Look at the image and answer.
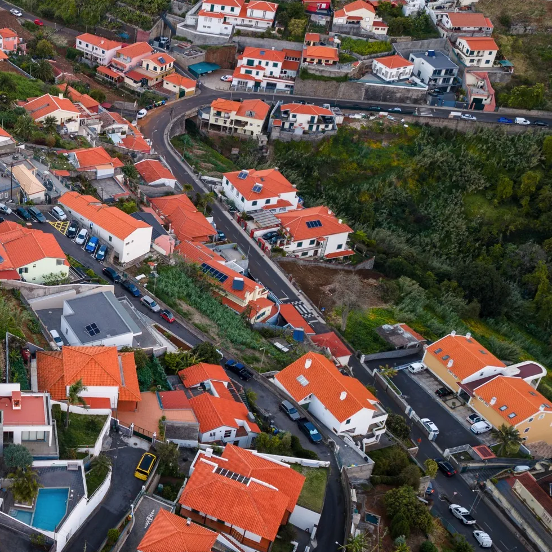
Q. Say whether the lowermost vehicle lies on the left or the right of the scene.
right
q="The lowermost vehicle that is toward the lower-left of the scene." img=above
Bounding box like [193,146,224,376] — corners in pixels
[135,452,156,479]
